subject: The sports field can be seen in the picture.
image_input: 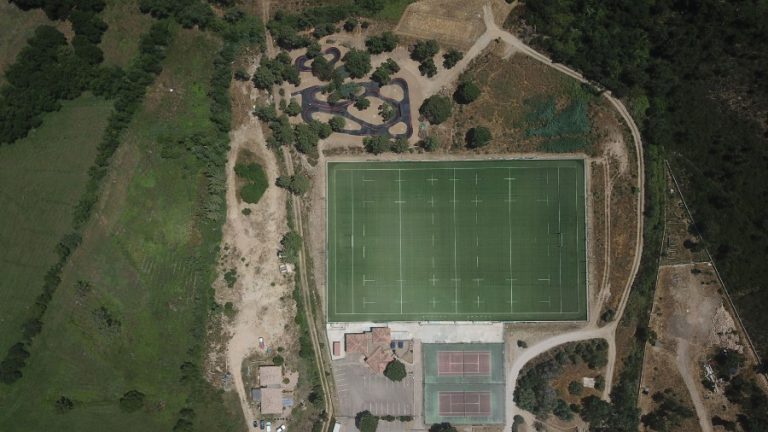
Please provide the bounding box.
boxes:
[327,158,589,323]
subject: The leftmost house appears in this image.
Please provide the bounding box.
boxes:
[253,365,294,414]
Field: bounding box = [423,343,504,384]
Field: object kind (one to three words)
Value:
tennis court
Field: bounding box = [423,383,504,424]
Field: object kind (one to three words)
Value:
tennis court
